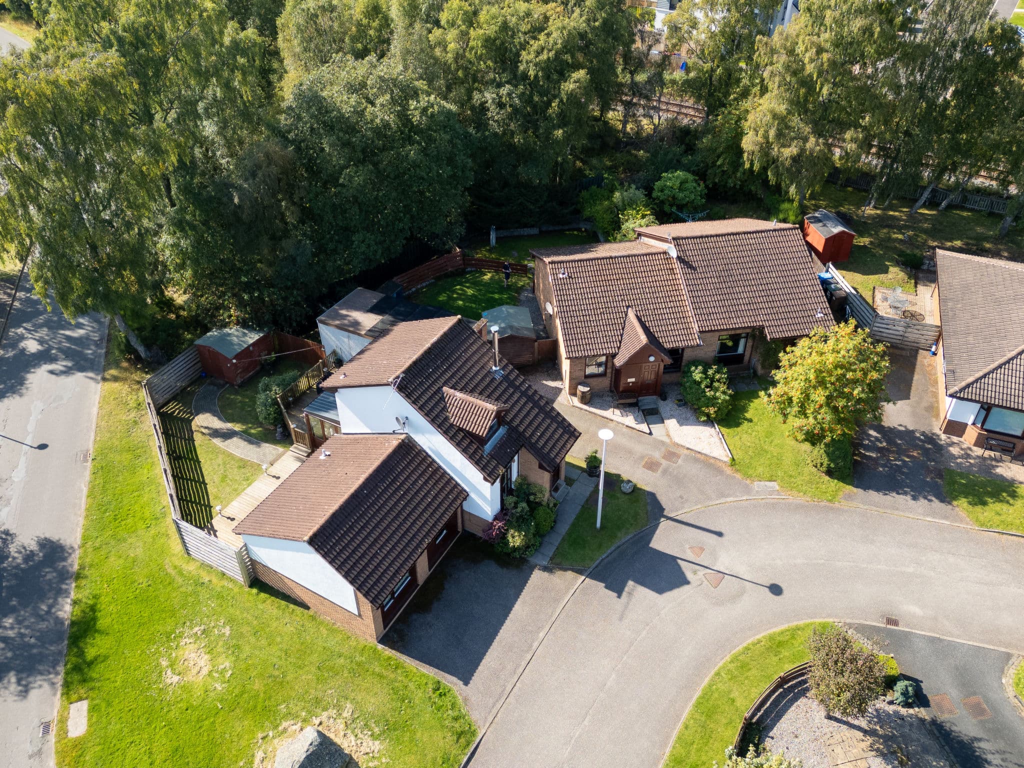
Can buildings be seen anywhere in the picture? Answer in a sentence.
Yes, a building can be made out from above.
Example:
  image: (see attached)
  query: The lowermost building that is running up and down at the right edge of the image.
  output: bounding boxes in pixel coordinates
[931,246,1024,456]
